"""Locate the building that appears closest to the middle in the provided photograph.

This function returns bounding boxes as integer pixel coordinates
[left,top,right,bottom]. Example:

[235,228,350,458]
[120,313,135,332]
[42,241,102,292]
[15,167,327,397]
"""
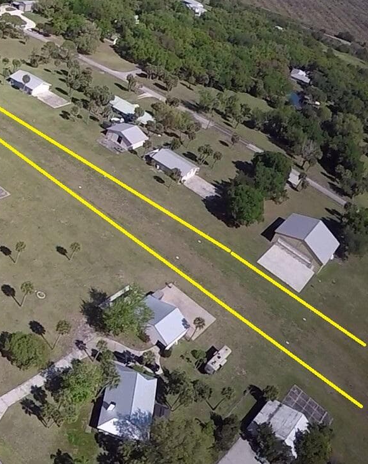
[138,147,198,187]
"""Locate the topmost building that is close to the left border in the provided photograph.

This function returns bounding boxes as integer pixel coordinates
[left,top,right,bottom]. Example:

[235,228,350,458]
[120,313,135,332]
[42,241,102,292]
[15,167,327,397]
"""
[1,0,33,14]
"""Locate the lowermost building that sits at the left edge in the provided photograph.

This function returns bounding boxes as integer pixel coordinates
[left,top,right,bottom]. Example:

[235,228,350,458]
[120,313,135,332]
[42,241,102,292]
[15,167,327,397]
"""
[12,72,51,97]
